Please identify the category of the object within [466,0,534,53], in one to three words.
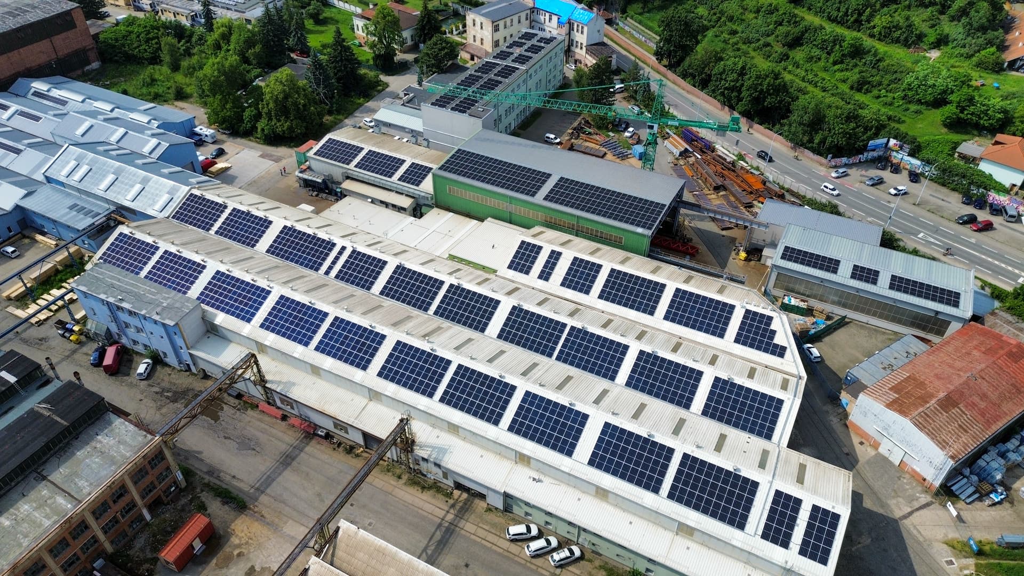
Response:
building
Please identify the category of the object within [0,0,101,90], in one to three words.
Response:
building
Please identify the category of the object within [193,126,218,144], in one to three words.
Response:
camper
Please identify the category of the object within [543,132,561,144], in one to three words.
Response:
vehicle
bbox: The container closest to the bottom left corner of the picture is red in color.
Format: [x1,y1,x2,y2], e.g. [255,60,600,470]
[154,509,218,572]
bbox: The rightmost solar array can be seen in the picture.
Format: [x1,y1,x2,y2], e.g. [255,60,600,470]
[889,274,962,309]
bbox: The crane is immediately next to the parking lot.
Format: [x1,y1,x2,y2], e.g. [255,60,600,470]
[427,84,738,174]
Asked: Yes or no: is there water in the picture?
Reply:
No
